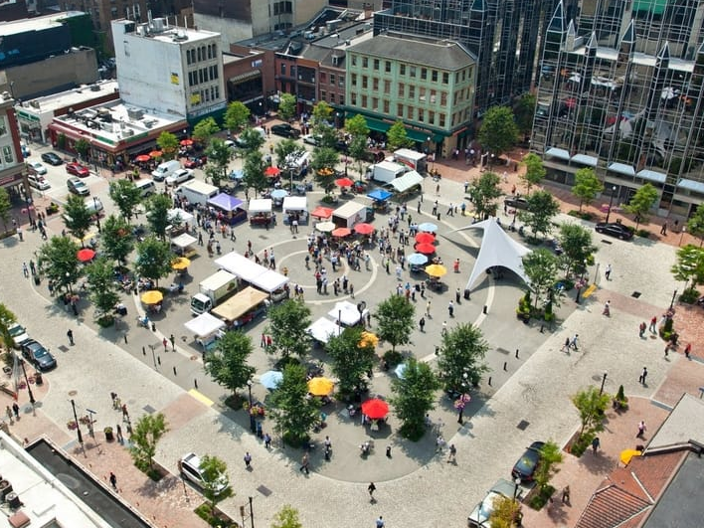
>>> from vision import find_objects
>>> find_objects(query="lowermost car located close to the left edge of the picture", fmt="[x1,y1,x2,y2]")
[16,341,66,377]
